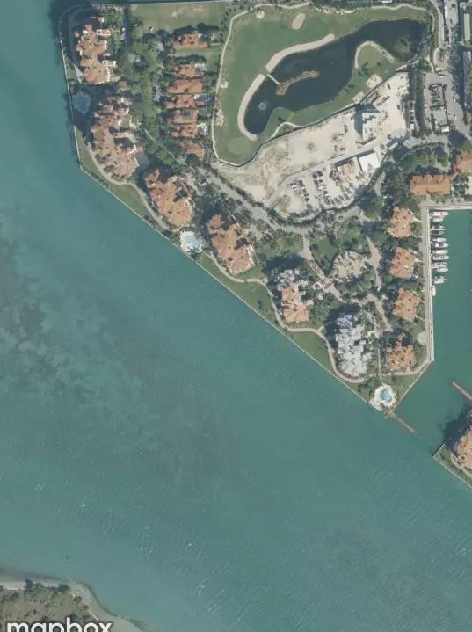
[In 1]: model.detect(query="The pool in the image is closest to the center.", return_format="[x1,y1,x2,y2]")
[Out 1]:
[179,229,202,253]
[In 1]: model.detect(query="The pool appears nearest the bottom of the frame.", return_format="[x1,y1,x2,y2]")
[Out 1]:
[371,385,396,413]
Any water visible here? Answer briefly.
Yes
